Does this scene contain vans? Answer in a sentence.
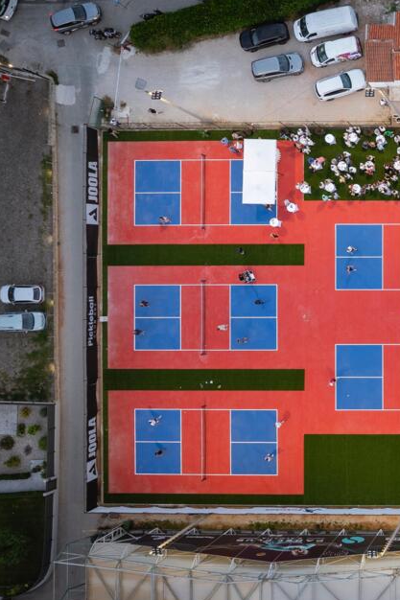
Yes, there's a van here.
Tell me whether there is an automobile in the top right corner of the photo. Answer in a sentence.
Yes, there is an automobile in the top right corner of the photo.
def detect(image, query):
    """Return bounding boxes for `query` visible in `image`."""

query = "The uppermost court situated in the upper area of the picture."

[108,140,304,245]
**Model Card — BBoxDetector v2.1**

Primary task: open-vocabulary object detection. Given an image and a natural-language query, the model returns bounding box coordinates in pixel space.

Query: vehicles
[0,0,21,18]
[142,10,160,19]
[1,282,48,305]
[48,3,104,35]
[293,3,360,41]
[310,35,364,67]
[0,309,48,334]
[313,69,369,101]
[251,53,305,83]
[240,21,293,52]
